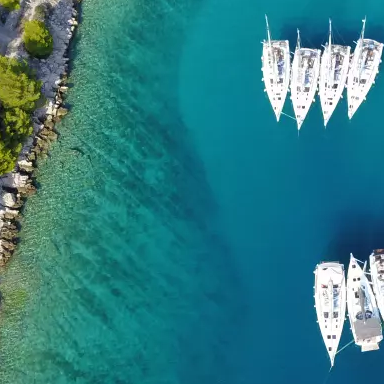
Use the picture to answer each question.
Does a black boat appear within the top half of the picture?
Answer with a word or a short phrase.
No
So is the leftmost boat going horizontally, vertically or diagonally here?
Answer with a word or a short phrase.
vertically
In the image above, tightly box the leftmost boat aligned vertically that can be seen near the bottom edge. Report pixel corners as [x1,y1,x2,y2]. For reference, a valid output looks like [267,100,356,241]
[314,255,346,384]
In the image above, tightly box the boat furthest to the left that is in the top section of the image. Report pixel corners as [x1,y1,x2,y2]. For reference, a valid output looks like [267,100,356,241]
[262,10,291,127]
